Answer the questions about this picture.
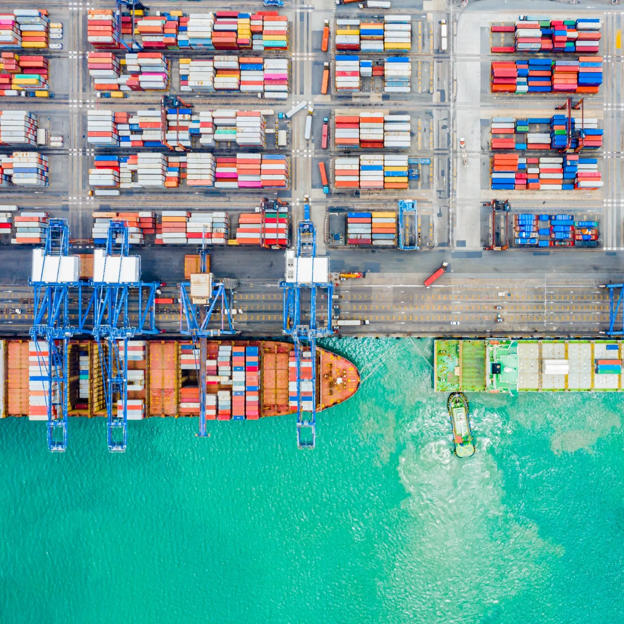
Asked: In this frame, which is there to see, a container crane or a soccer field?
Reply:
container crane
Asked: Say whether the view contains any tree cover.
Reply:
No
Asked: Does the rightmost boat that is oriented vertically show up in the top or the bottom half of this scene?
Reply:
bottom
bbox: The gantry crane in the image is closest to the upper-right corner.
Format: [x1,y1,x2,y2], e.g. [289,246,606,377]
[554,98,586,153]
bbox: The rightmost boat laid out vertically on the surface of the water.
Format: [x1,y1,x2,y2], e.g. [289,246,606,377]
[448,392,475,457]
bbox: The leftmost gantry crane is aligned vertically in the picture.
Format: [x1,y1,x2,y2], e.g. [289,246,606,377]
[30,216,106,450]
